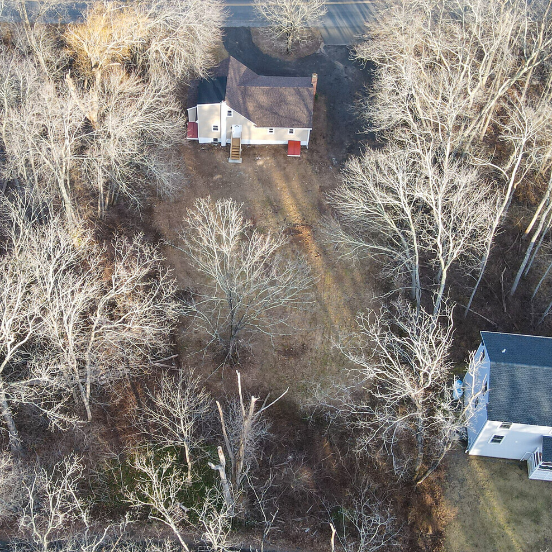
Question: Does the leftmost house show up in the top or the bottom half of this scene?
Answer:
top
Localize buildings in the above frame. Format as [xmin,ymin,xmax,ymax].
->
[185,53,317,163]
[463,332,552,482]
